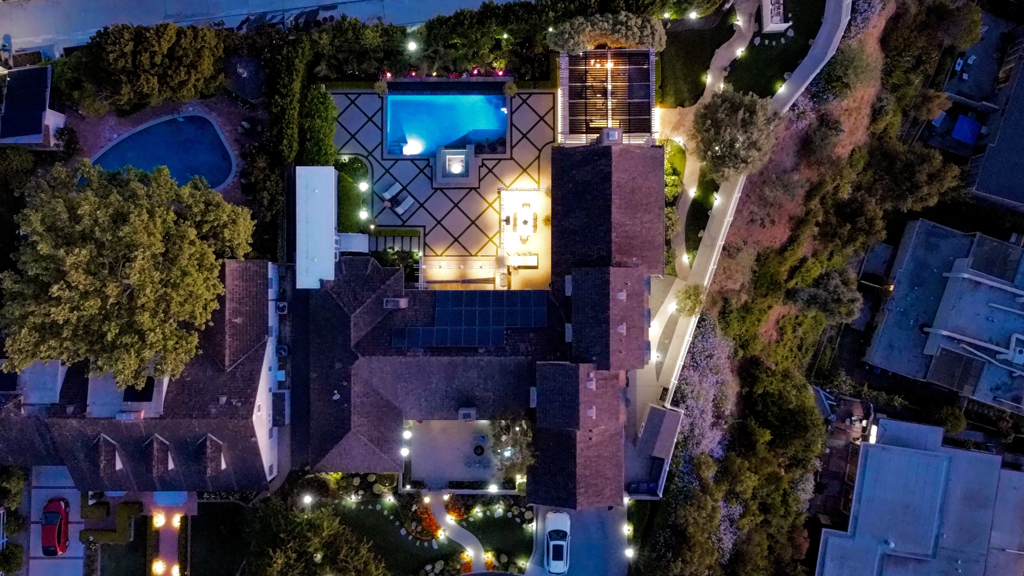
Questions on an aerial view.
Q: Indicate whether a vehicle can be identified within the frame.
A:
Yes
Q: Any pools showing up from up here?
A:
Yes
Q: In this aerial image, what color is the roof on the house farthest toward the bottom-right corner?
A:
blue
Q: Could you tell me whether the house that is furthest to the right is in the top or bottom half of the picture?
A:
top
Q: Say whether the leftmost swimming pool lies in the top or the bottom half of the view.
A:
top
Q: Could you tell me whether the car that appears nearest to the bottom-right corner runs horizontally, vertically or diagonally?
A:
vertically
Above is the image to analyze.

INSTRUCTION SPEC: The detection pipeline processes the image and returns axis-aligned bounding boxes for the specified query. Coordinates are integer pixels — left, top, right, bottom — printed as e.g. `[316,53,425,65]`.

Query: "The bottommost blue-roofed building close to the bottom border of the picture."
[803,413,1024,576]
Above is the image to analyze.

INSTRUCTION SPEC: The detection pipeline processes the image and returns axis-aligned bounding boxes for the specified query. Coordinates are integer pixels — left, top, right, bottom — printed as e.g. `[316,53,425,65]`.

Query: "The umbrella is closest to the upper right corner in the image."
[950,115,982,145]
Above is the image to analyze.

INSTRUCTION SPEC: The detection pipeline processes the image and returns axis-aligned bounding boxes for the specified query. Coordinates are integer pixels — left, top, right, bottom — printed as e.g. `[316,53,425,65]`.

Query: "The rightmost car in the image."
[542,512,573,575]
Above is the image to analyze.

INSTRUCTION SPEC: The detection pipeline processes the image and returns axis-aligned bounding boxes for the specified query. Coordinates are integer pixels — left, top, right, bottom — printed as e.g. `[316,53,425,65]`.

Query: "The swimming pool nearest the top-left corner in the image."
[78,113,235,202]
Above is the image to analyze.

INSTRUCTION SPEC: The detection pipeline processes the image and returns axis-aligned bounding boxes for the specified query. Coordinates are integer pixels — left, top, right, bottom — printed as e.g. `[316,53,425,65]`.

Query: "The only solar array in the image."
[392,291,546,346]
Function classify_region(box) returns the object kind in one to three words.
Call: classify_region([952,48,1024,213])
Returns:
house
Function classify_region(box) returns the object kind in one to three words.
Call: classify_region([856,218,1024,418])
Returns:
house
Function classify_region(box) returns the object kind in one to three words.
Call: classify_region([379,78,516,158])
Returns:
swimming pool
